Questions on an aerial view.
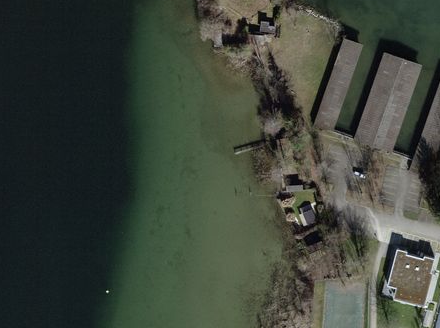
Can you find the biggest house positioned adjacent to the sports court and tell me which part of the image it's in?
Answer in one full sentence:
The biggest house positioned adjacent to the sports court sits in the bottom right section of the image.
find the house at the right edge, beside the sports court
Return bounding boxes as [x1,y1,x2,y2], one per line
[389,250,436,308]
